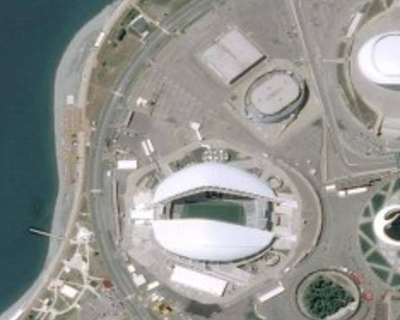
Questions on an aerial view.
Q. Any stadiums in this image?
Yes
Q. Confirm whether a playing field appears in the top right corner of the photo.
No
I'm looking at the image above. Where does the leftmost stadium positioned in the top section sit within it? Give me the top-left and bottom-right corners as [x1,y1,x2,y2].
[243,68,310,122]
